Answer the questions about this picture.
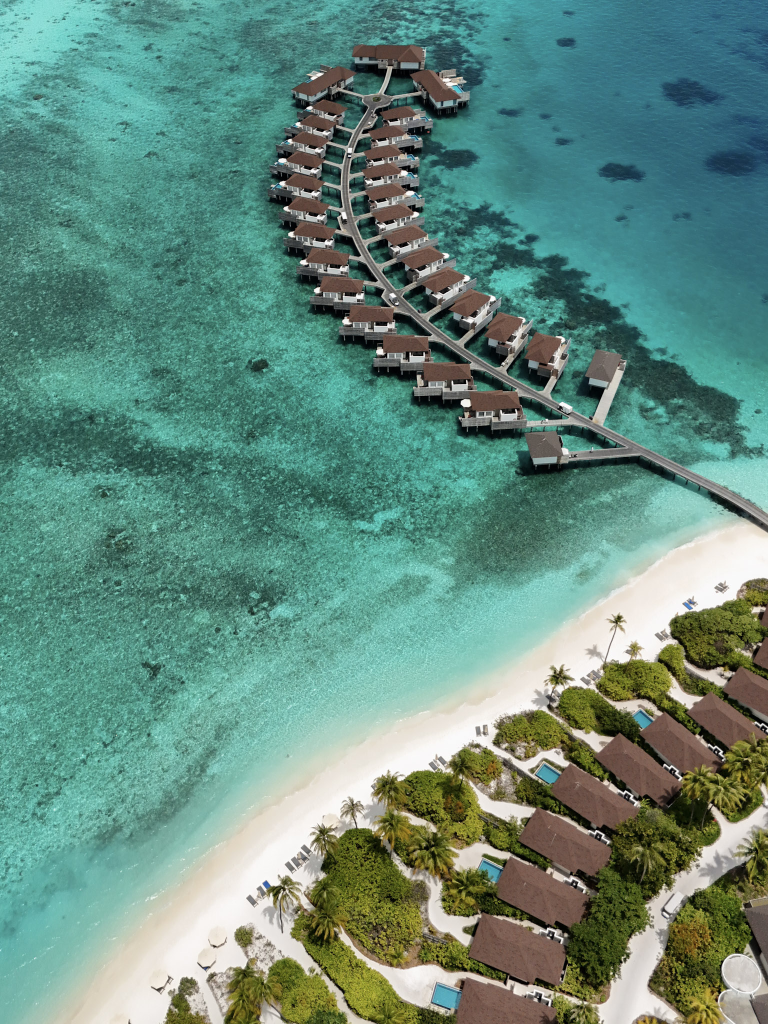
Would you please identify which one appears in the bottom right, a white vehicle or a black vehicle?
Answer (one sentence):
You can see a white vehicle in the bottom right.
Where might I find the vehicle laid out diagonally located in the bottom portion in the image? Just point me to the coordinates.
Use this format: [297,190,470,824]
[661,889,687,921]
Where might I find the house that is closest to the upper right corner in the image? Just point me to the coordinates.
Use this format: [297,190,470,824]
[409,67,471,122]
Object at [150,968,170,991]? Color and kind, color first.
white umbrella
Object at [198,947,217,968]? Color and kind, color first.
white umbrella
